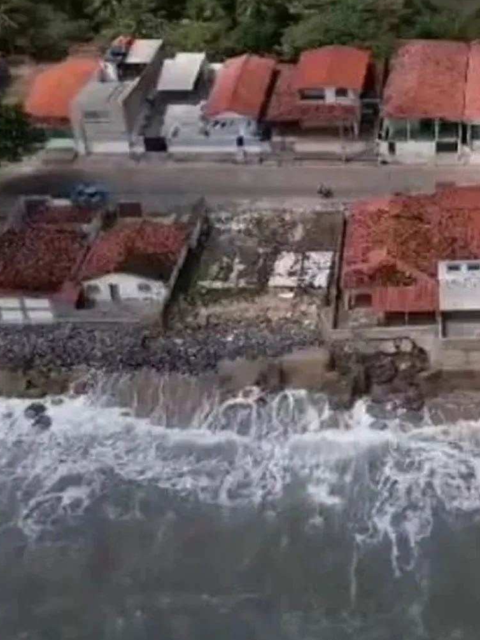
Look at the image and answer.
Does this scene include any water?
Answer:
Yes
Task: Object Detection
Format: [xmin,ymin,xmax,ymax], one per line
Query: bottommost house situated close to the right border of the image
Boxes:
[325,181,480,341]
